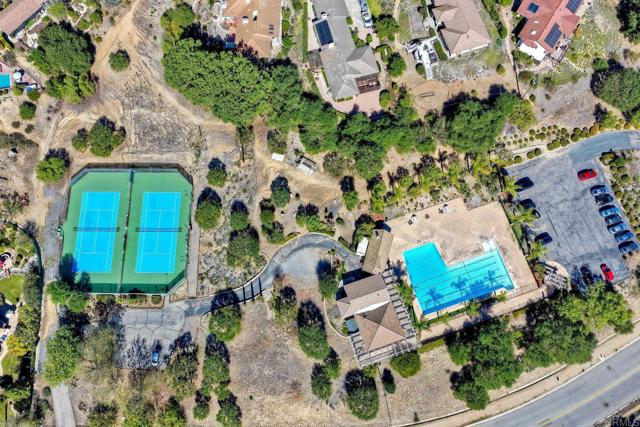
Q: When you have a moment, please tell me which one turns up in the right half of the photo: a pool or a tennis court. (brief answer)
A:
pool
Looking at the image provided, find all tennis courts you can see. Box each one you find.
[61,171,131,291]
[120,171,191,291]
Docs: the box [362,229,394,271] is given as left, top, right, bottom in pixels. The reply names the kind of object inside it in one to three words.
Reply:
building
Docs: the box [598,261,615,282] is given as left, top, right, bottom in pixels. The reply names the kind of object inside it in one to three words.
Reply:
car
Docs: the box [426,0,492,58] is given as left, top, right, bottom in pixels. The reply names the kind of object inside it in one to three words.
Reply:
house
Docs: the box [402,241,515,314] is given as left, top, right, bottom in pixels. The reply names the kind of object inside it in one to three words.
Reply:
swimming pool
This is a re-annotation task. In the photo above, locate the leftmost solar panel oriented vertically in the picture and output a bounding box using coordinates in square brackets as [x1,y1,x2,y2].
[316,20,330,46]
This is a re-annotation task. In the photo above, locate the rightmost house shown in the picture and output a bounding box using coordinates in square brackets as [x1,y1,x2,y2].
[514,0,582,53]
